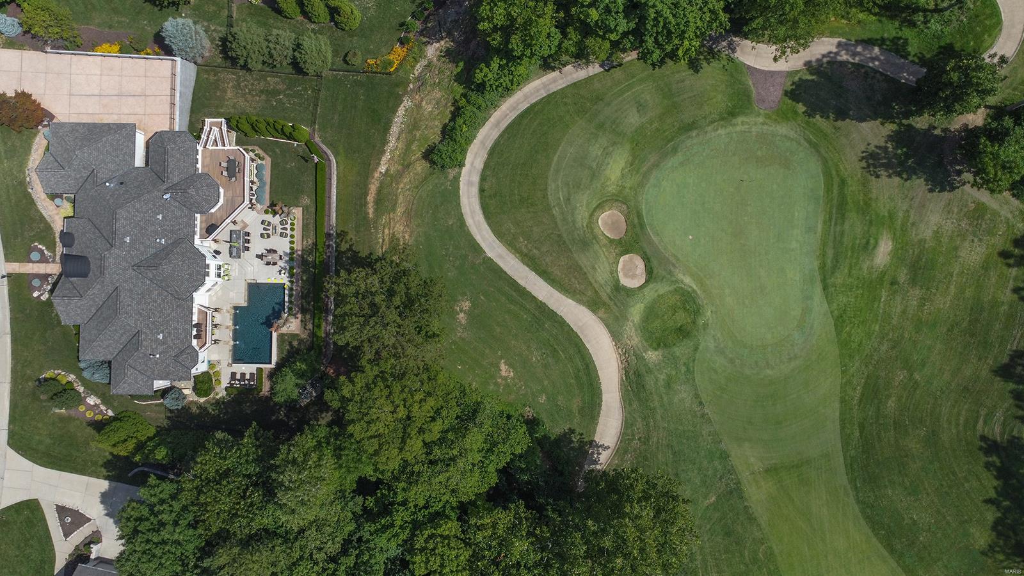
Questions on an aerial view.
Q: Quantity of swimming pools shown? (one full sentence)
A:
The picture shows 1 swimming pool.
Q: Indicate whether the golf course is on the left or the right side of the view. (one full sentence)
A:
It is on the right.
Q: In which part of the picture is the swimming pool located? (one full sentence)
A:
The swimming pool is located in the left region of the scene.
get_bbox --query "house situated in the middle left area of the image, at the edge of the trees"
[34,119,254,395]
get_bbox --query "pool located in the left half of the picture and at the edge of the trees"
[227,280,289,367]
